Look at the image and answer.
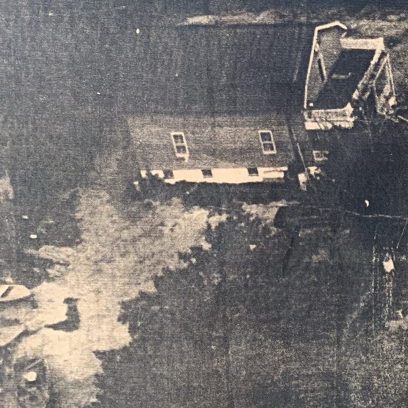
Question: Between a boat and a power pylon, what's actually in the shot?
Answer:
boat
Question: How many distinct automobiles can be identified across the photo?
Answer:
zero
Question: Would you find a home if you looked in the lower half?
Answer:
No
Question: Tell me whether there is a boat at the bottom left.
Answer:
Yes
